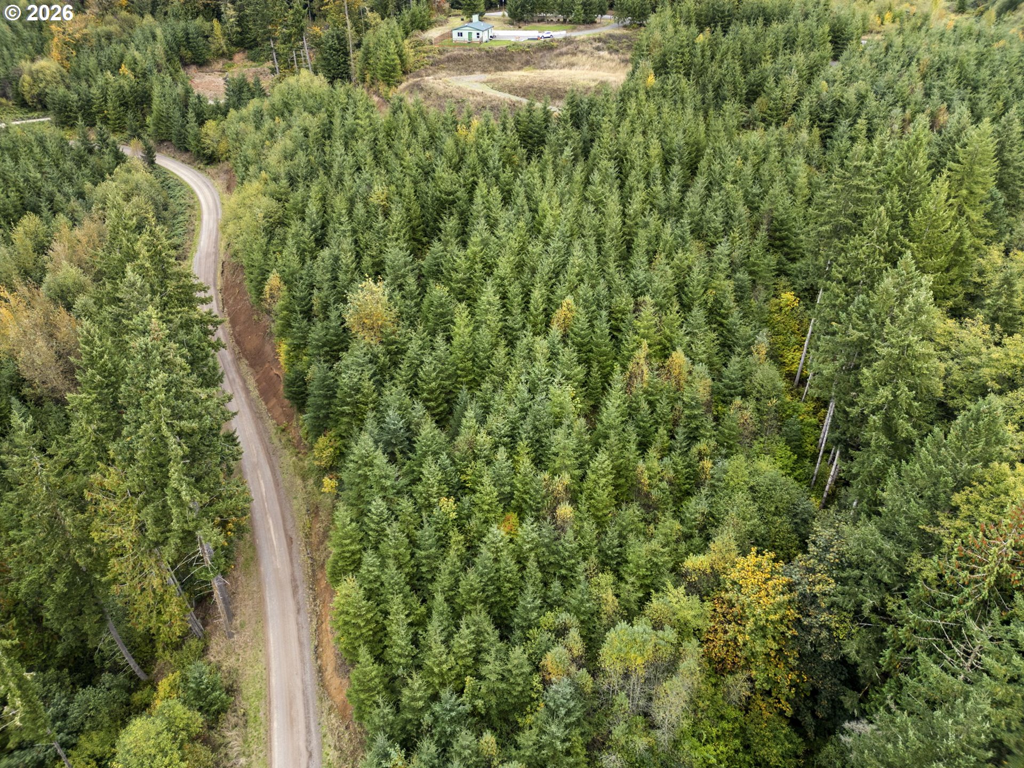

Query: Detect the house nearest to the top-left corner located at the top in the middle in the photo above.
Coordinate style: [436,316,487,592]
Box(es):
[450,12,494,44]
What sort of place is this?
forest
